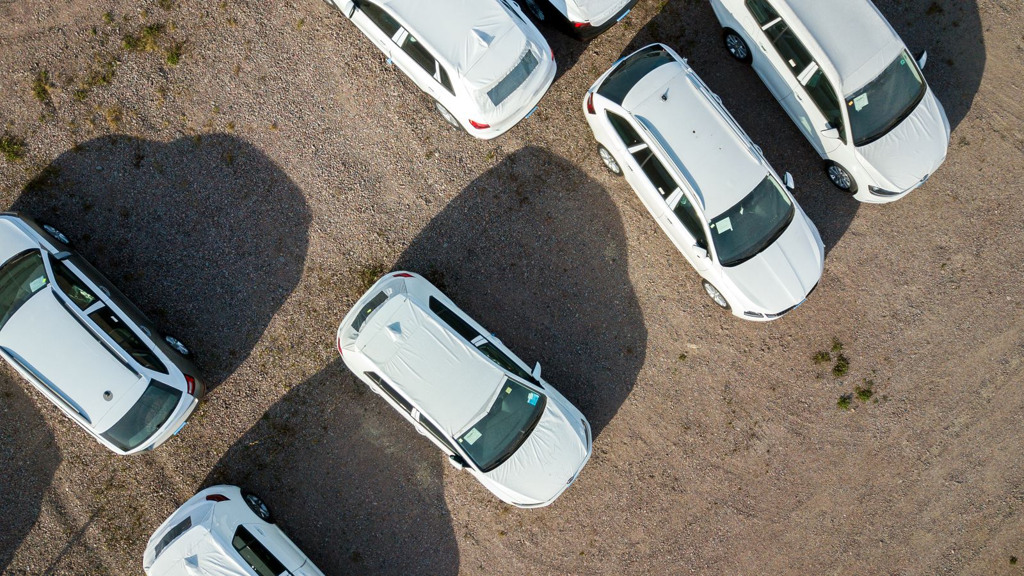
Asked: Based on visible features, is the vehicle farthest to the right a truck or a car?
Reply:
car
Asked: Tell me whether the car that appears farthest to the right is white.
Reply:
Yes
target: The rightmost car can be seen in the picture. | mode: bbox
[581,44,829,321]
